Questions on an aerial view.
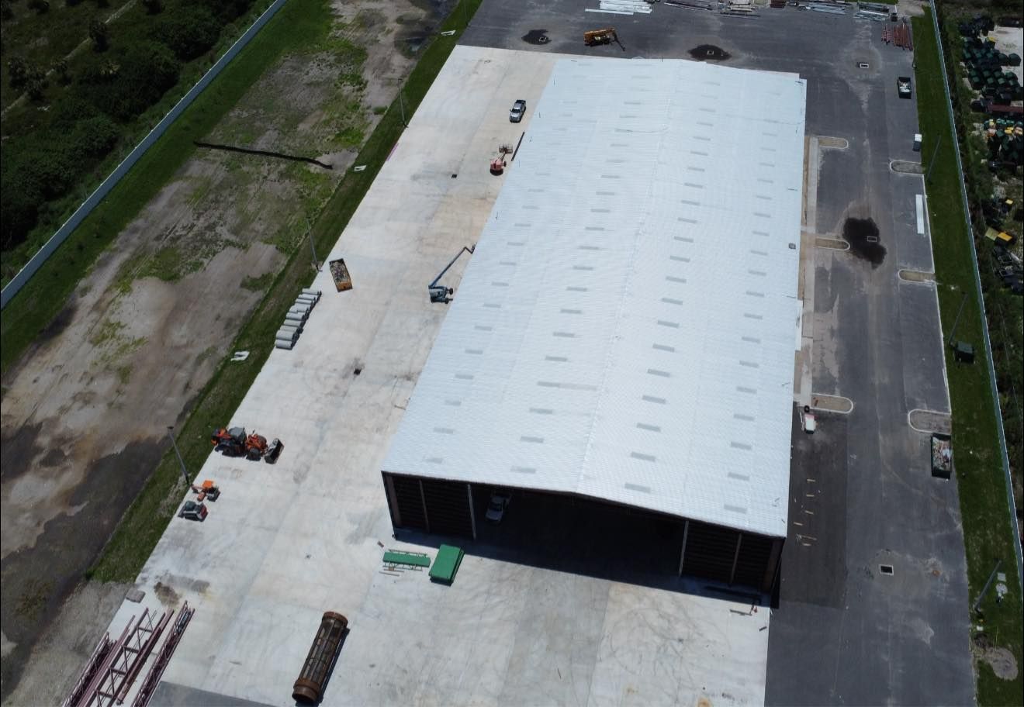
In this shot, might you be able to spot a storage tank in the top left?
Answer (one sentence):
No, I can find no storage tank in the top left.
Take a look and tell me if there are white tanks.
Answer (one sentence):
No, there appears to be no white tank in this shot.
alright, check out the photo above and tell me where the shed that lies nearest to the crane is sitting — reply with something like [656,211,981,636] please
[380,59,807,591]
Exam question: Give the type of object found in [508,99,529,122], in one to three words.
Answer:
truck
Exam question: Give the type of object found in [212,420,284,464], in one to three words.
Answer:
work vehicle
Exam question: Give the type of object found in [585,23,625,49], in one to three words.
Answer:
crane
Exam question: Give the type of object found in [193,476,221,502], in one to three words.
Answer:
work vehicle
